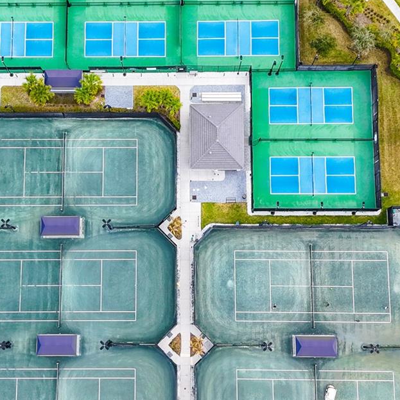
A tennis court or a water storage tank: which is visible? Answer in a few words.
tennis court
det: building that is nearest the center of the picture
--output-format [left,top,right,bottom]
[189,102,246,170]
